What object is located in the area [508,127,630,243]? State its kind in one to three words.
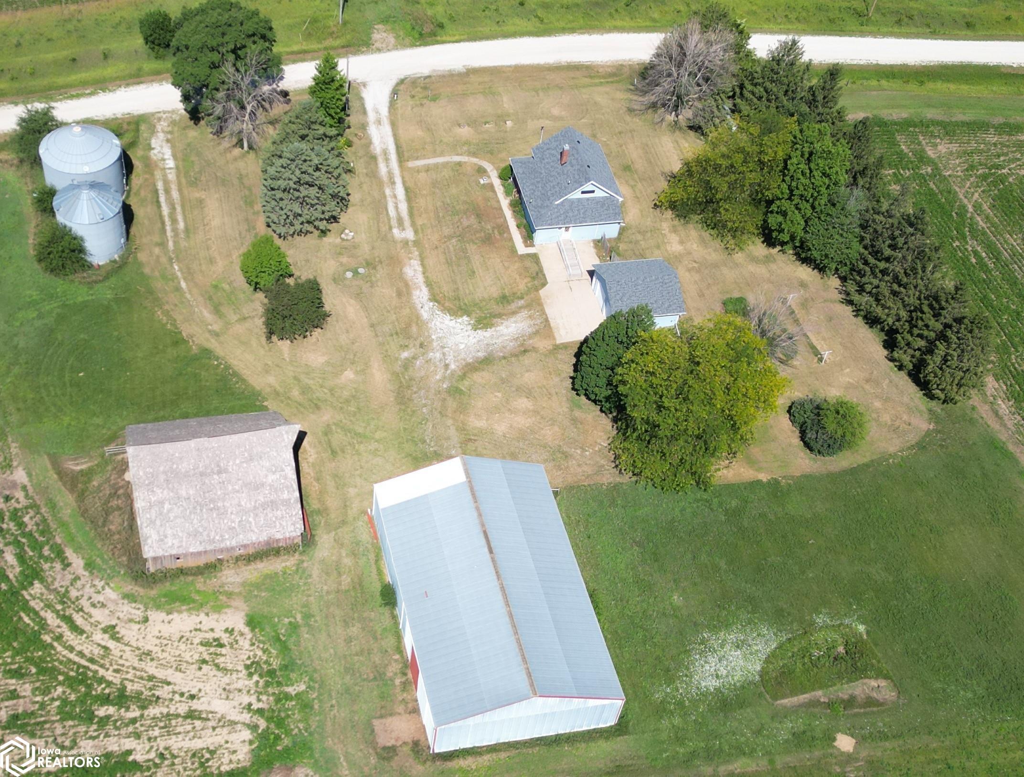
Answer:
house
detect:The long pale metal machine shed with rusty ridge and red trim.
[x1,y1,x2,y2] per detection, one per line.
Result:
[373,456,625,754]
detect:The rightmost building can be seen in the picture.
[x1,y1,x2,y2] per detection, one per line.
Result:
[590,259,687,333]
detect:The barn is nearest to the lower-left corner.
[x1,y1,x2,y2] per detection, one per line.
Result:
[124,410,304,569]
